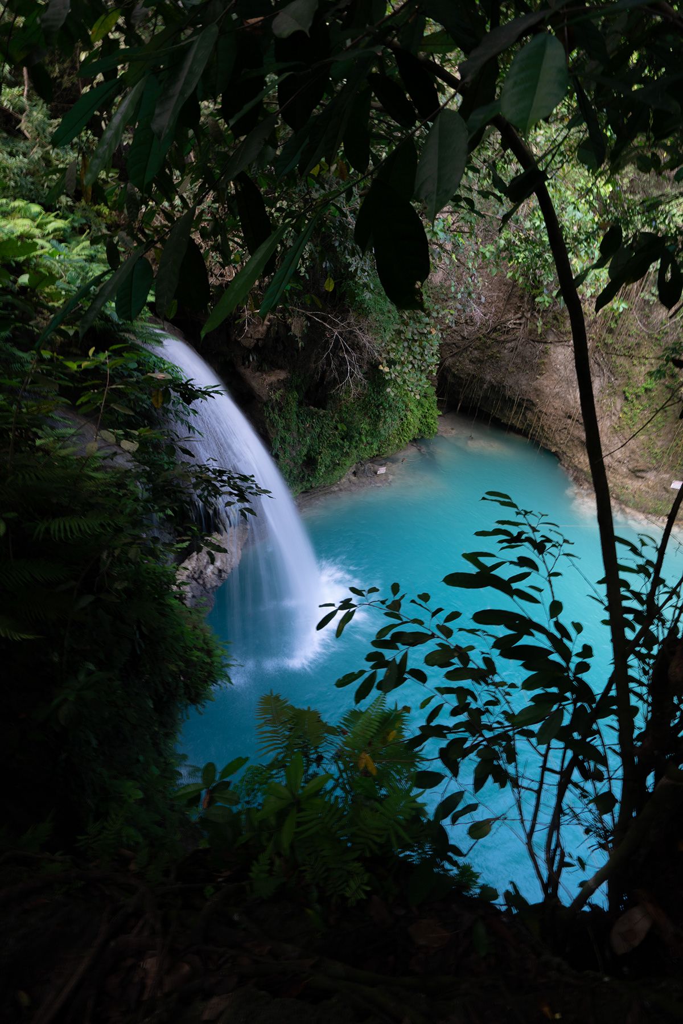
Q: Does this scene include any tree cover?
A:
Yes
